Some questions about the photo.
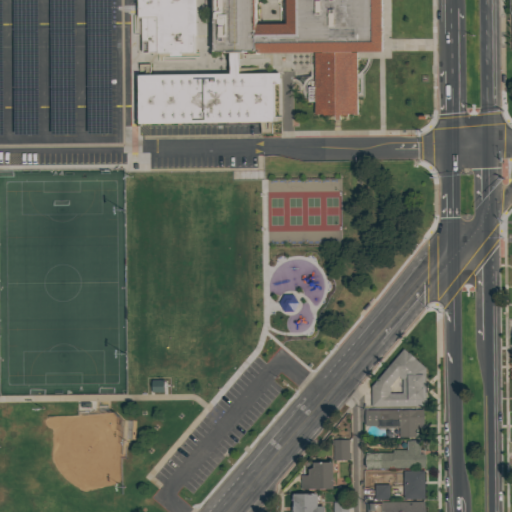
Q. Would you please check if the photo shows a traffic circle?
No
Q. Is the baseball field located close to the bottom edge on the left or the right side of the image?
left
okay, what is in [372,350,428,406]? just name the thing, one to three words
building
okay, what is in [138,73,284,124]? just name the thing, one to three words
building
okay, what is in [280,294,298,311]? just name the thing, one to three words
gazebo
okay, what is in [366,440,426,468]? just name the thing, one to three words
house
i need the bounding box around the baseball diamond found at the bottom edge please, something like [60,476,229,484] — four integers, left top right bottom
[0,402,131,512]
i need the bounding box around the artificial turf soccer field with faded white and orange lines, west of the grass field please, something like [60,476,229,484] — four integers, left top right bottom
[0,170,126,396]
